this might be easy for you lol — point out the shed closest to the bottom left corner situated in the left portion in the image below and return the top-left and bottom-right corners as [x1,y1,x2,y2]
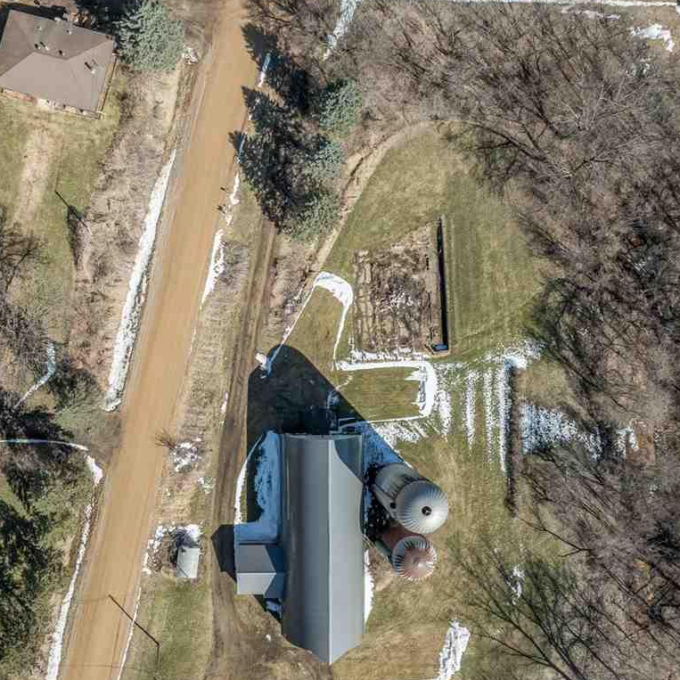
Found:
[176,546,200,579]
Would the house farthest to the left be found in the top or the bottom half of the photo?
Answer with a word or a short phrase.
top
